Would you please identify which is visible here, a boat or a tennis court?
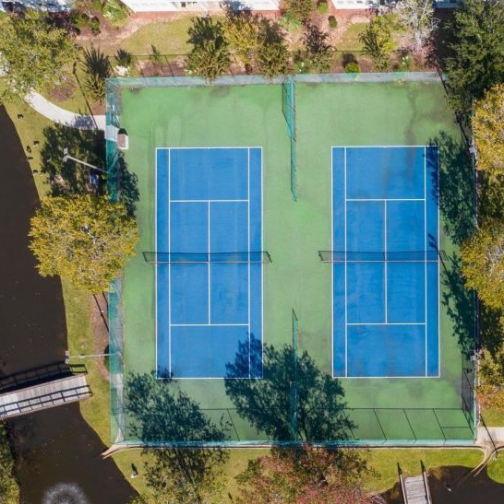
tennis court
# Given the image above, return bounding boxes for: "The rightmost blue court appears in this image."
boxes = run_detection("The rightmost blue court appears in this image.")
[332,146,439,377]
